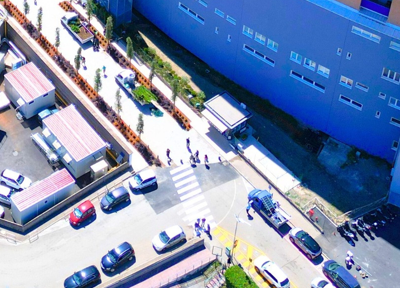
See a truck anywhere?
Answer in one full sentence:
Yes, the image includes a truck.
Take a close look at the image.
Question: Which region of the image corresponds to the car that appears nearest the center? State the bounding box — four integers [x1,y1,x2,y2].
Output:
[126,168,161,196]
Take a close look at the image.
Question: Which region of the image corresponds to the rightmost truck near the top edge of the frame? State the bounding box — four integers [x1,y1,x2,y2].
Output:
[61,9,93,40]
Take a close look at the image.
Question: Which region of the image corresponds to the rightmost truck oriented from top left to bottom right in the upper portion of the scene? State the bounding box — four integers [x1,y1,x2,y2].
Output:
[113,70,155,106]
